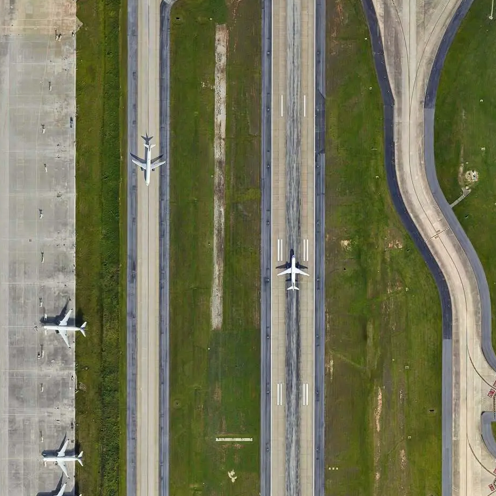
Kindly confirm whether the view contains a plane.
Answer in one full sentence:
Yes, there is a plane in the image.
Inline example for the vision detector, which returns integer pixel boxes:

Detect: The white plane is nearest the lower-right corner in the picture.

[277,255,310,290]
